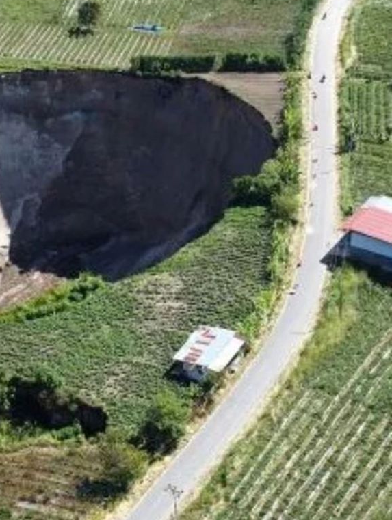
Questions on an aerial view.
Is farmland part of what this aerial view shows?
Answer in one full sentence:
Yes, the picture does contain farmland.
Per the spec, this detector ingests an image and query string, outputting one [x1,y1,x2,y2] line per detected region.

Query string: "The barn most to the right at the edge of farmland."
[340,195,392,263]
